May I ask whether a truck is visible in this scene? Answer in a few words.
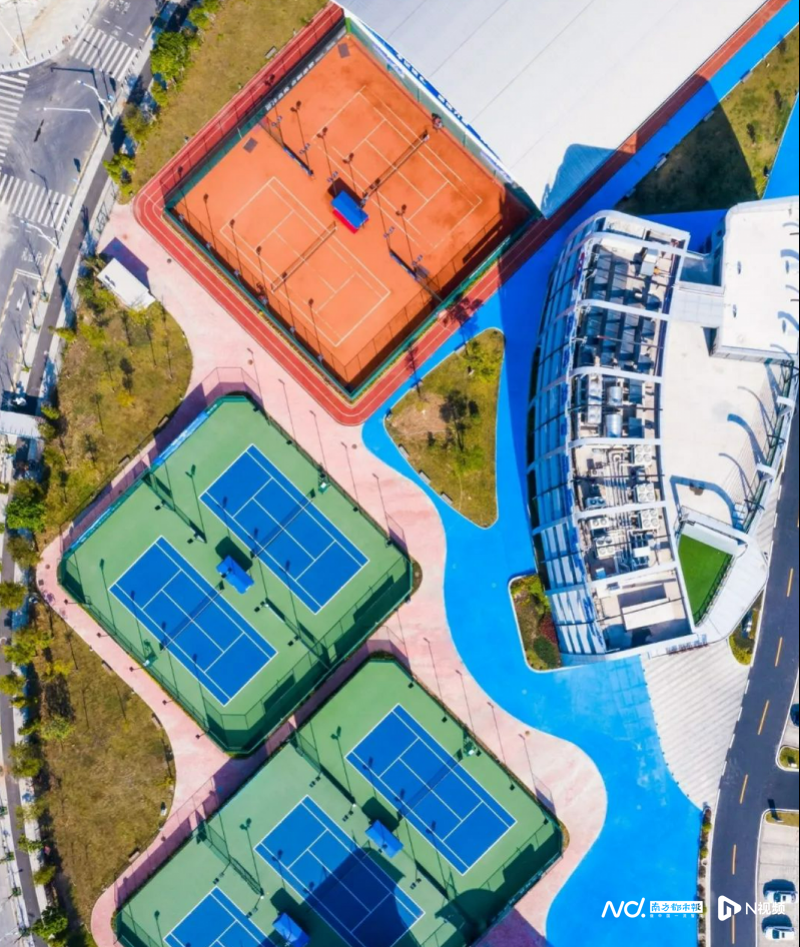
No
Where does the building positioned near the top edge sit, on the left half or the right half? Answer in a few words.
right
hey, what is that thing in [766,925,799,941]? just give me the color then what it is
white car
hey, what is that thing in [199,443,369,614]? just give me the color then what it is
blue tennis court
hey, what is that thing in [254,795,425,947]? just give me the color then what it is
blue tennis court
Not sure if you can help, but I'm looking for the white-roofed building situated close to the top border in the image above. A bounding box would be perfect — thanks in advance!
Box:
[338,0,770,221]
